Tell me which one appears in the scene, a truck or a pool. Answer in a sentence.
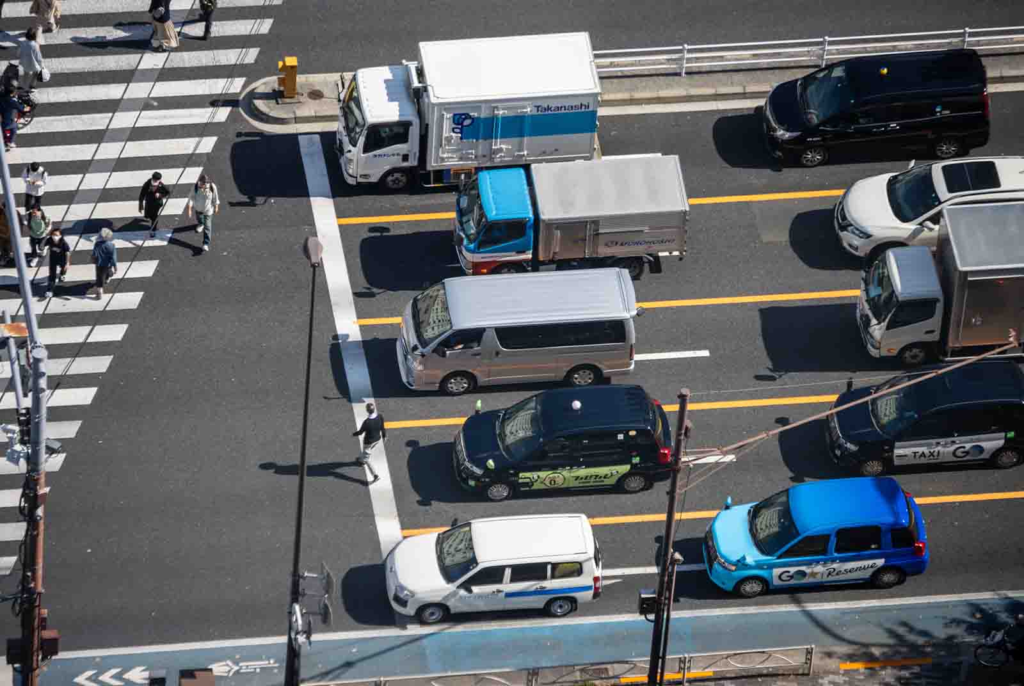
The image shows a truck.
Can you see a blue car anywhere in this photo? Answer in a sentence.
Yes, there is a blue car in the image.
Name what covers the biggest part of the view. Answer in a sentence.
For the most part, this view shows paved ground.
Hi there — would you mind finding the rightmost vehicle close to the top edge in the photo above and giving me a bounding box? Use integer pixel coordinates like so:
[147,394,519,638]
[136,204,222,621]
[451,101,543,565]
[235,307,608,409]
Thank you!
[333,32,600,198]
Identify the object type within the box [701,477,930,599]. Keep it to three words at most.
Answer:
car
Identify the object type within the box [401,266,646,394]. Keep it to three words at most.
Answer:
vehicle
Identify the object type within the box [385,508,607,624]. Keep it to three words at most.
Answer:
car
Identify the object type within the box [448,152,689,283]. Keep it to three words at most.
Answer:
truck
